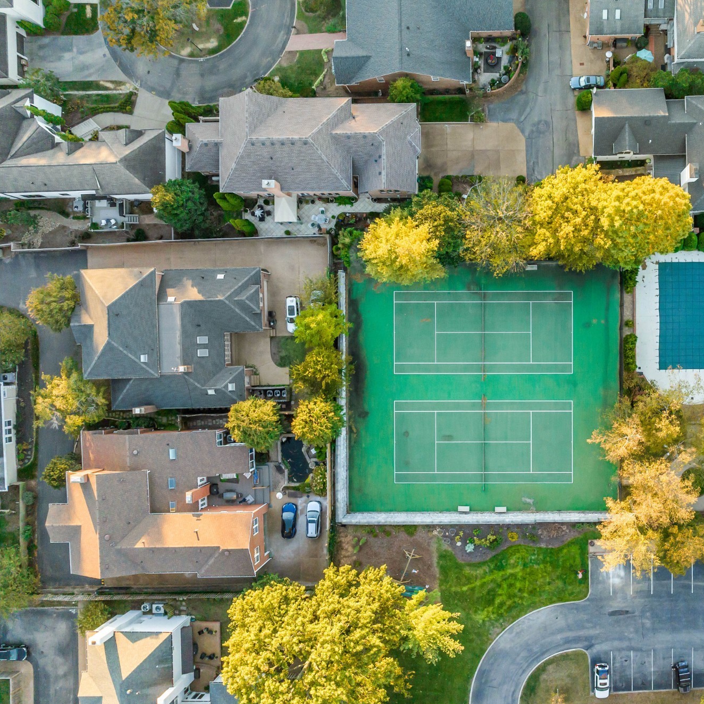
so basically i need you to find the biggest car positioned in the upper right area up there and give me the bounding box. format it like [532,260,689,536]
[570,72,605,90]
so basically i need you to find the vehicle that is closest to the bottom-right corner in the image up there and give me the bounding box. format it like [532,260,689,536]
[673,658,692,693]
